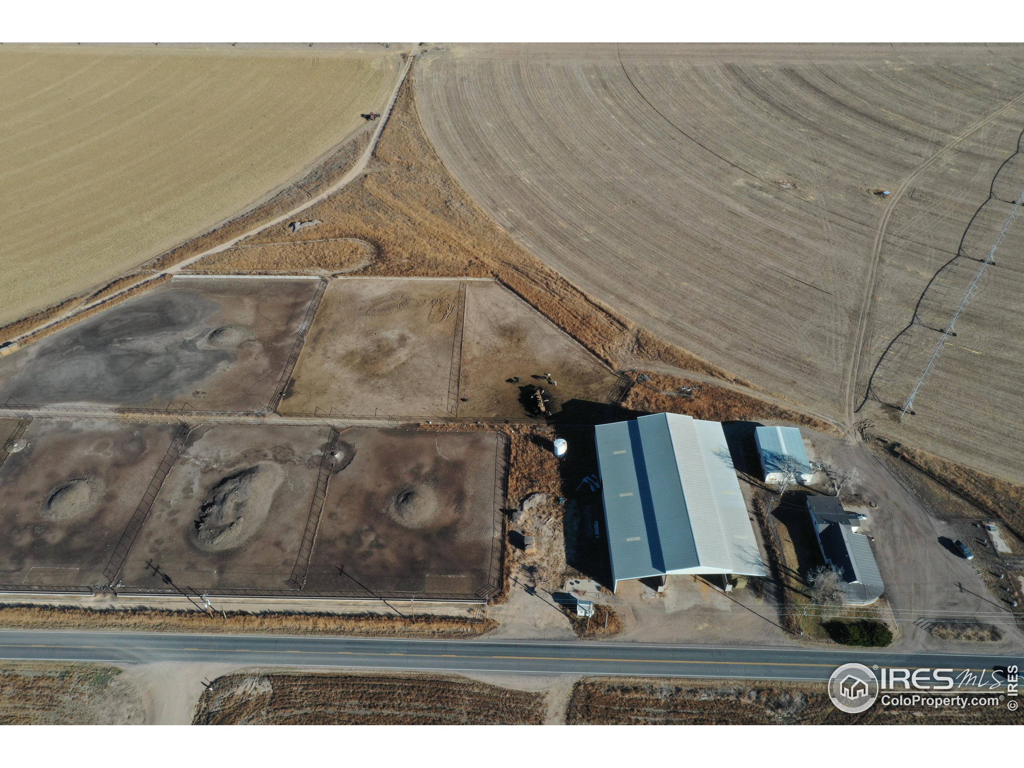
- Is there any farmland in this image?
Yes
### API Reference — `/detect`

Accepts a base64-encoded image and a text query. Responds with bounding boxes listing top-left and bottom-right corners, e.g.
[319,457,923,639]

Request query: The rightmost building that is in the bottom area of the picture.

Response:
[805,496,884,607]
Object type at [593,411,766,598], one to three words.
barn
